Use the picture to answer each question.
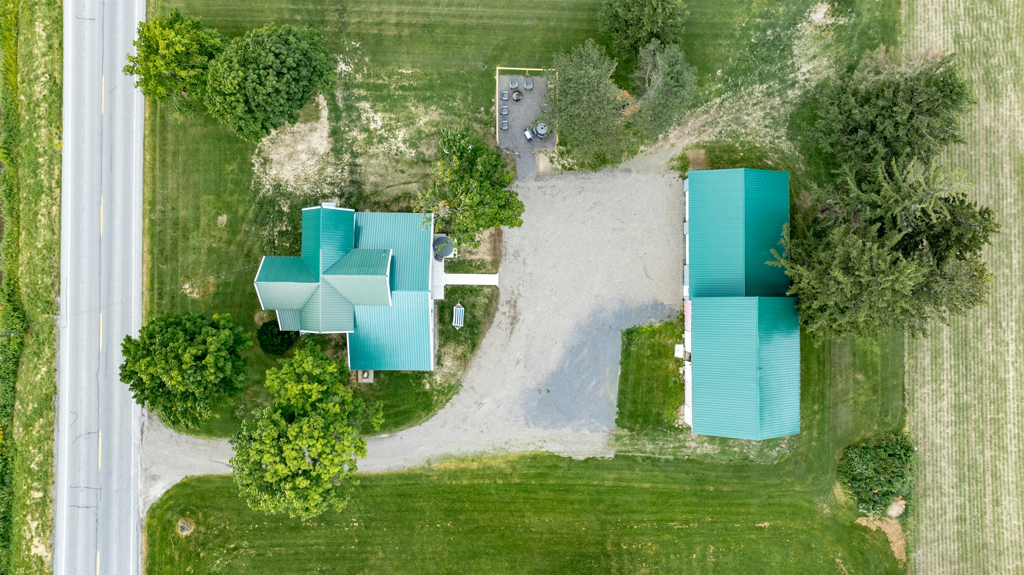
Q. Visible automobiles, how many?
zero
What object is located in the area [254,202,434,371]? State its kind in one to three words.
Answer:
house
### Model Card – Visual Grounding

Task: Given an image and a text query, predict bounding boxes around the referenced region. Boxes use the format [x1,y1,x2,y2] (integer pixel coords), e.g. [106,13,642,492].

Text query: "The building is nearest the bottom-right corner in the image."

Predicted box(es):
[684,297,801,441]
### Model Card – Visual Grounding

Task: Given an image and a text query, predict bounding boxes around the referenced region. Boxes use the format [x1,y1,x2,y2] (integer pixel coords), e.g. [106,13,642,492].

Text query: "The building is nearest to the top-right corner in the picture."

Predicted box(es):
[684,168,789,299]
